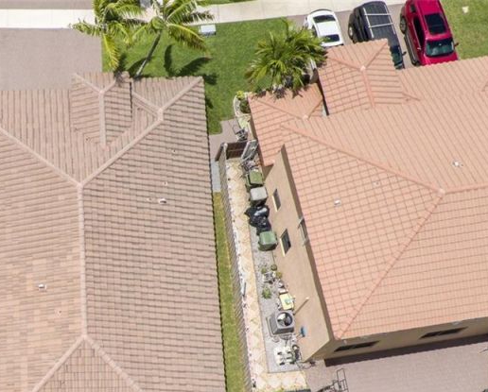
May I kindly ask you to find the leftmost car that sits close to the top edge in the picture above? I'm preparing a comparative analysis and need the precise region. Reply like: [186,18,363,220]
[307,0,362,51]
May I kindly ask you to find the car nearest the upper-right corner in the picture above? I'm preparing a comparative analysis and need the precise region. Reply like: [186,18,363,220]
[404,0,466,64]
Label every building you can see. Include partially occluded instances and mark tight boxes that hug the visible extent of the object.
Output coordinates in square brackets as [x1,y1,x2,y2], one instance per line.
[246,37,488,358]
[0,70,227,392]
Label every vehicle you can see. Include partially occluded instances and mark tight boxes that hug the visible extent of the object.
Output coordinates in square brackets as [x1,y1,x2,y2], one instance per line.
[357,0,421,68]
[404,0,466,64]
[307,0,362,51]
